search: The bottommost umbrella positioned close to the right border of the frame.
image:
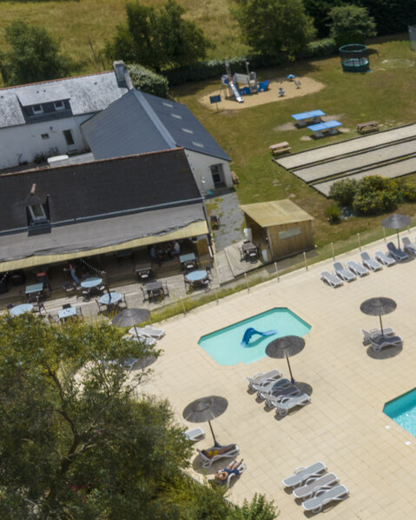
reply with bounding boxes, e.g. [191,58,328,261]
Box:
[360,297,398,330]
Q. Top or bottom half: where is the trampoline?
top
